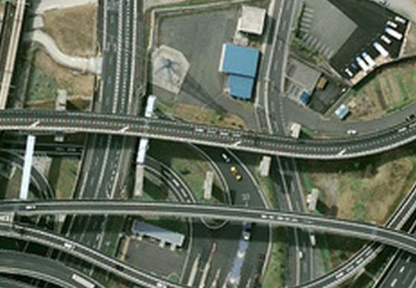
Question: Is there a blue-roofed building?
Yes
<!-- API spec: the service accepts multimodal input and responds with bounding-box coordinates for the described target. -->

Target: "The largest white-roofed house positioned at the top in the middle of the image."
[239,6,265,35]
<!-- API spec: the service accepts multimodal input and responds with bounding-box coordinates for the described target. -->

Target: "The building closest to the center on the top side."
[228,75,254,99]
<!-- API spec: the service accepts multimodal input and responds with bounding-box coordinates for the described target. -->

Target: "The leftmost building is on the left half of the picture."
[132,221,185,250]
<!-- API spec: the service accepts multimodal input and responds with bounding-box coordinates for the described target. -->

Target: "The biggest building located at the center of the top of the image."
[221,44,260,78]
